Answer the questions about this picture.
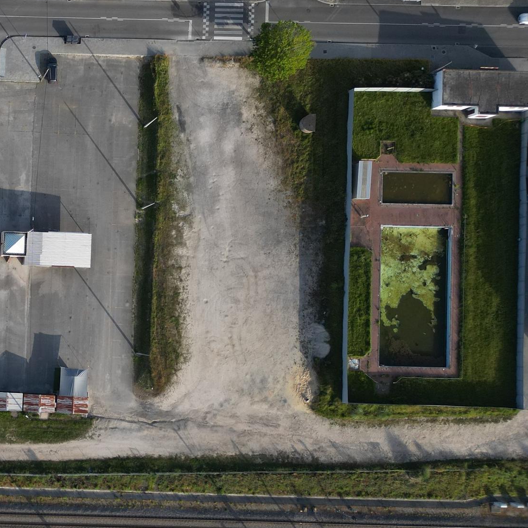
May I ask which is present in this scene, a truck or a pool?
pool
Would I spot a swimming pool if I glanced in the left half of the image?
No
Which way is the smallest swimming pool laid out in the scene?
from left to right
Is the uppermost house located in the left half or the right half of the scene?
right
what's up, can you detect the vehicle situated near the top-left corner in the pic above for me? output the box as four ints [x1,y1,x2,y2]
[46,56,58,83]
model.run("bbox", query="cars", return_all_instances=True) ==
[519,12,528,22]
[46,56,58,83]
